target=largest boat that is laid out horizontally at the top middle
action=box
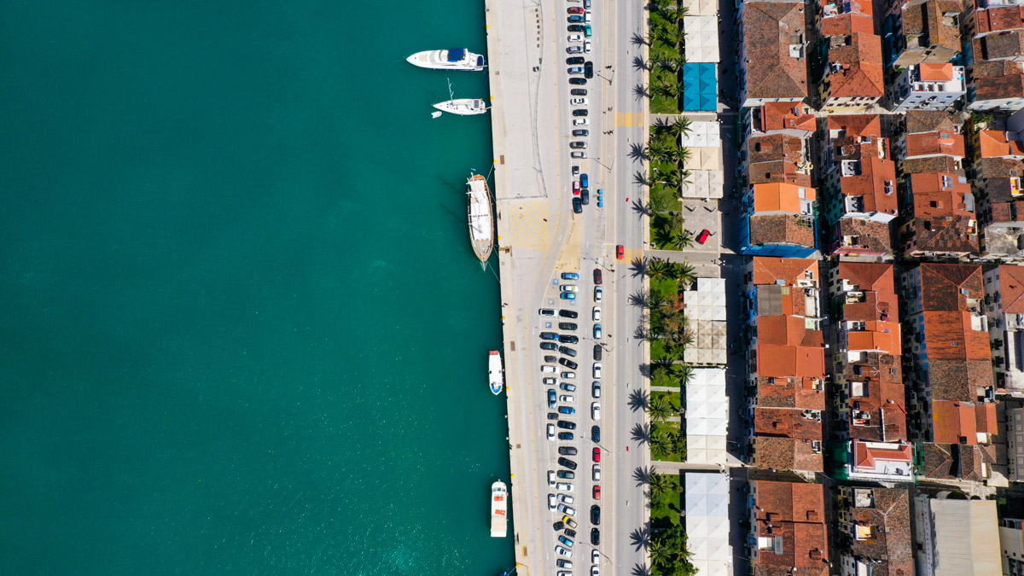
[408,50,488,71]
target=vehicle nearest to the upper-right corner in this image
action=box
[696,228,709,245]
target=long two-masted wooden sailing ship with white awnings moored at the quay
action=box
[468,169,494,272]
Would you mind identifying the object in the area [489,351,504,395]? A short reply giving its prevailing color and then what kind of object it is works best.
white boat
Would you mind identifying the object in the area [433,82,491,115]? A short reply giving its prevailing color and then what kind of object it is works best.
white boat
